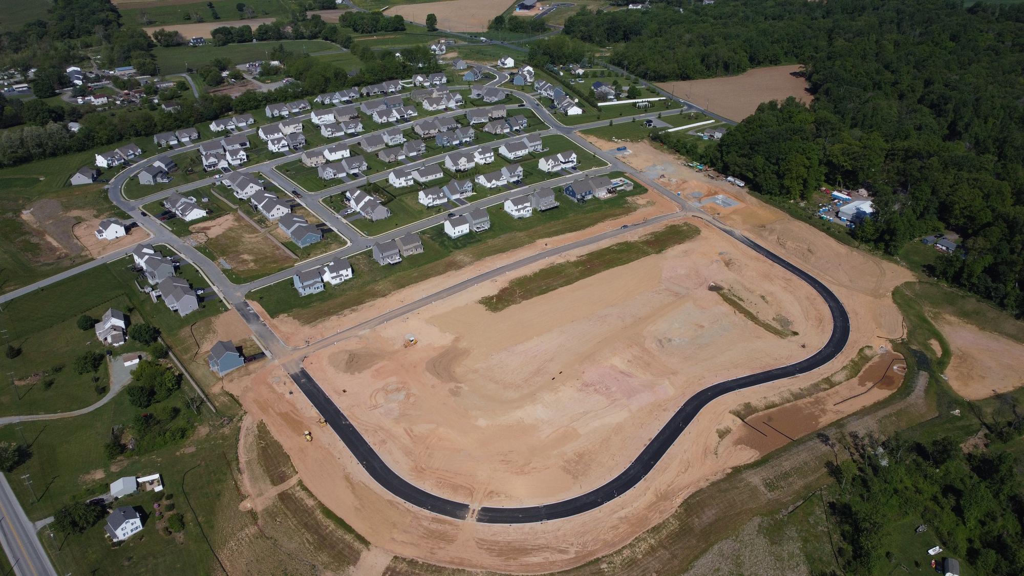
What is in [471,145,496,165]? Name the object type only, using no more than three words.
house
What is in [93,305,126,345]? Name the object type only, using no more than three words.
house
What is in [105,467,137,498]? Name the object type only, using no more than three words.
building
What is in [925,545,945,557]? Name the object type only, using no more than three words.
boat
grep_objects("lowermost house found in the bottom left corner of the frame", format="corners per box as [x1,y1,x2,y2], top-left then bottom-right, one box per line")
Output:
[101,497,143,545]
